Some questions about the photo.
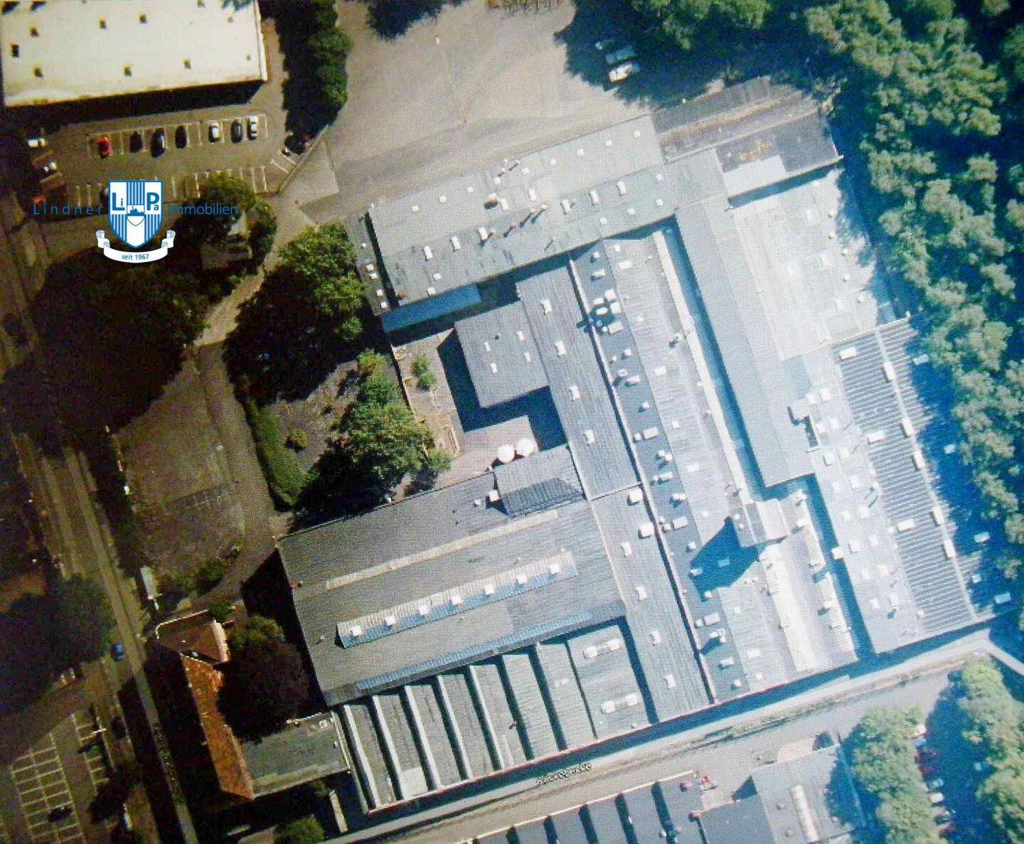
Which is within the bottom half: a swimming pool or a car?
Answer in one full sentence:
Looking within the bottom half, you will find a car.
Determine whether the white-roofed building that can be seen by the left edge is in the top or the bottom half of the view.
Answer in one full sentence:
The top half of the photo is where the white-roofed building that can be seen by the left edge is.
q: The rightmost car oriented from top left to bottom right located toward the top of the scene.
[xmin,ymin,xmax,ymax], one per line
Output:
[279,138,296,157]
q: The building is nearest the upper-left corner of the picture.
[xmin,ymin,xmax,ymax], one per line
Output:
[0,0,270,110]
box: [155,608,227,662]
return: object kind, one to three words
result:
house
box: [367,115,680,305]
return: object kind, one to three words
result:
building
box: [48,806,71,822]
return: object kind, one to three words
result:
car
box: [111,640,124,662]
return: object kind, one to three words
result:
vehicle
